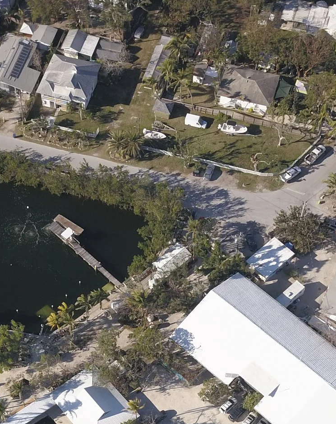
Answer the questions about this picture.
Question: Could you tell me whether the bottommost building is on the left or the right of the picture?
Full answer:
The bottommost building sits on the left side.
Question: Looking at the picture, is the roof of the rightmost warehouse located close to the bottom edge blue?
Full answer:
No, from above the roof of the rightmost warehouse located close to the bottom edge looks white.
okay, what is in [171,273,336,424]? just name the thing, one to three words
warehouse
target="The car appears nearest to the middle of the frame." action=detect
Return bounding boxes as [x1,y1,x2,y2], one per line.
[203,165,215,182]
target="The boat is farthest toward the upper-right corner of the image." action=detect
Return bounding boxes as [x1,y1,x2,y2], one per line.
[217,118,250,135]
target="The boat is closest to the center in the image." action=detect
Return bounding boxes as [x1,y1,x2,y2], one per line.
[142,124,169,140]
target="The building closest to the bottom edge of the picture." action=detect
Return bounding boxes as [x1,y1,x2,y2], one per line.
[53,368,140,424]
